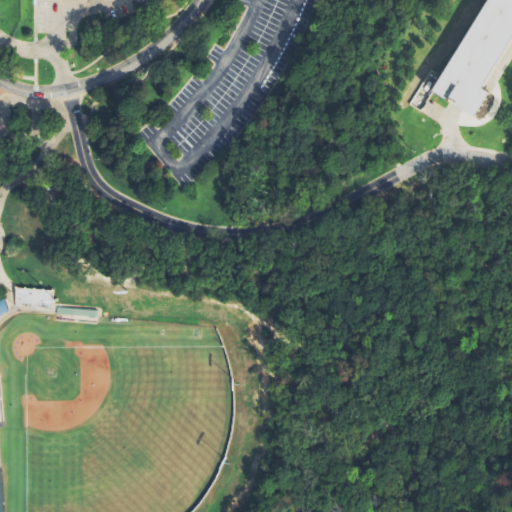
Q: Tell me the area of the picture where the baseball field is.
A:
bottom left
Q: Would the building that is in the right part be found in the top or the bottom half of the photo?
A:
top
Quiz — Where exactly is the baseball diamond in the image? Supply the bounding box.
[12,330,233,512]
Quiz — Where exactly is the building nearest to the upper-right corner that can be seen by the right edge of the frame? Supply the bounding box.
[431,0,512,117]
